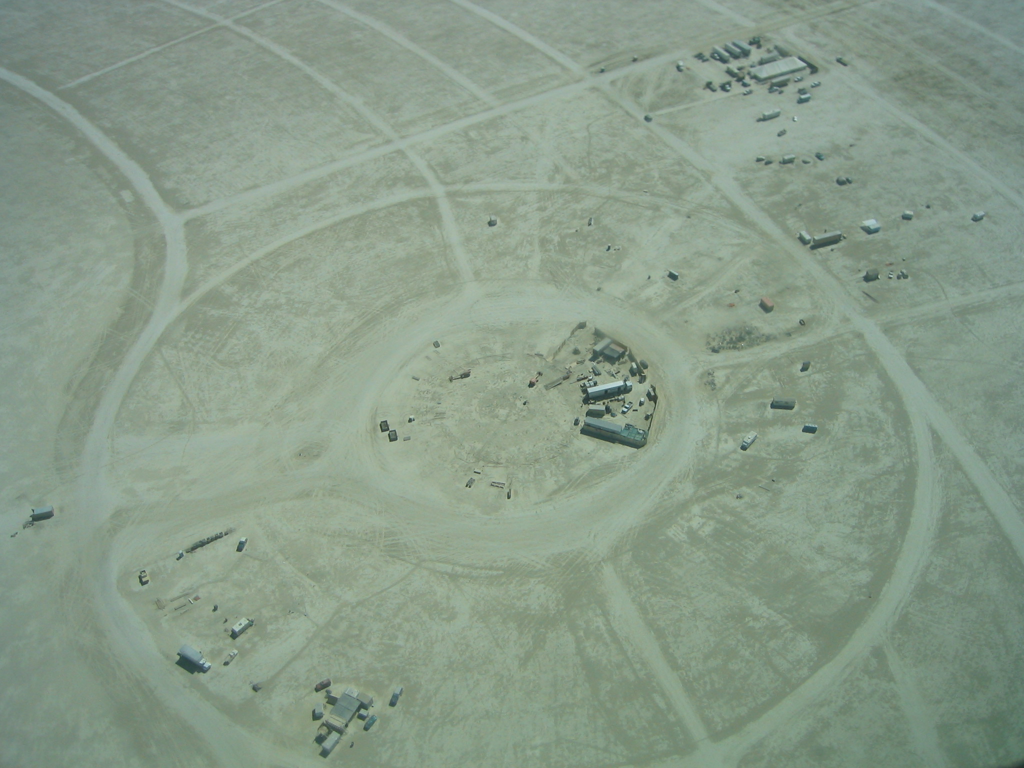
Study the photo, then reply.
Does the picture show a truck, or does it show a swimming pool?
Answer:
truck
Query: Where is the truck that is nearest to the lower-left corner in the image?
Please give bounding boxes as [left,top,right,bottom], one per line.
[177,644,216,676]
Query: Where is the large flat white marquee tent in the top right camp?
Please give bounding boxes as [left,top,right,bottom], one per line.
[748,57,808,86]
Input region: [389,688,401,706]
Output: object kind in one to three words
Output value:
vehicle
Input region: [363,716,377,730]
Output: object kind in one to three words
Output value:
car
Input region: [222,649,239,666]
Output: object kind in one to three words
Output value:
vehicle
